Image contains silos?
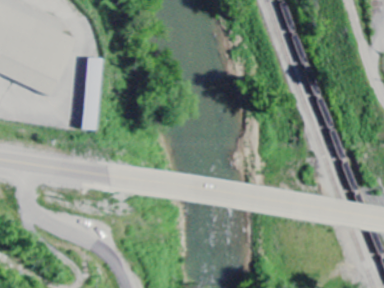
No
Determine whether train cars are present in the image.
Yes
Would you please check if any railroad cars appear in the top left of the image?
No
